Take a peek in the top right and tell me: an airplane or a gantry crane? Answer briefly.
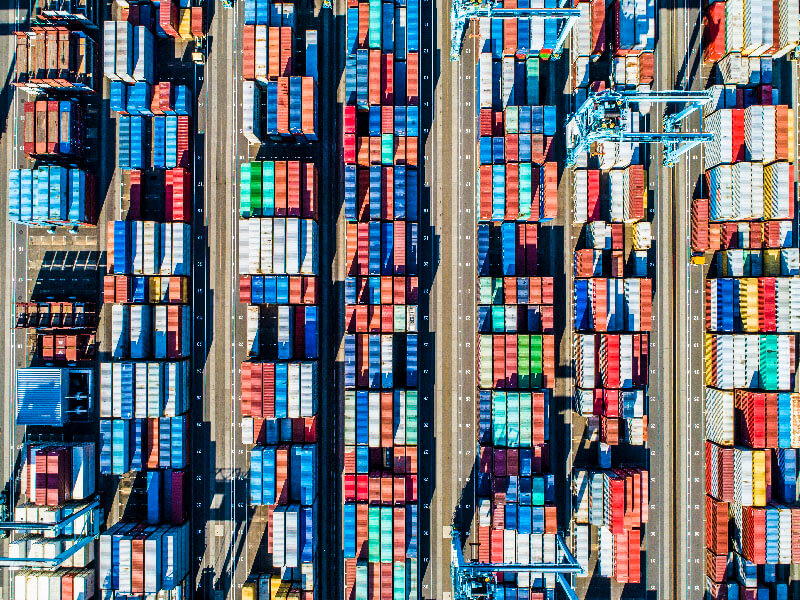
gantry crane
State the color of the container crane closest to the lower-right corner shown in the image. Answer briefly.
blue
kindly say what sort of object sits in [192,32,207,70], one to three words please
vehicle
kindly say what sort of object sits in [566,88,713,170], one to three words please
container crane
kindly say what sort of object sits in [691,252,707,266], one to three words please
vehicle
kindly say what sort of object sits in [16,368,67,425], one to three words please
shed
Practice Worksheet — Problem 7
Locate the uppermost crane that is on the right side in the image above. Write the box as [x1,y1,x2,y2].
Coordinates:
[452,0,583,62]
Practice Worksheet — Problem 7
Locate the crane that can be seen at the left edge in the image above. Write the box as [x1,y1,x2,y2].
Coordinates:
[0,491,104,574]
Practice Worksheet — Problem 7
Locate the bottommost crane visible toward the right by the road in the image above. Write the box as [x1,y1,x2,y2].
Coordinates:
[452,527,583,600]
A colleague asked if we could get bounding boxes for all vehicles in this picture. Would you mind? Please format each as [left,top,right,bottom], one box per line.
[192,32,207,70]
[691,252,707,266]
